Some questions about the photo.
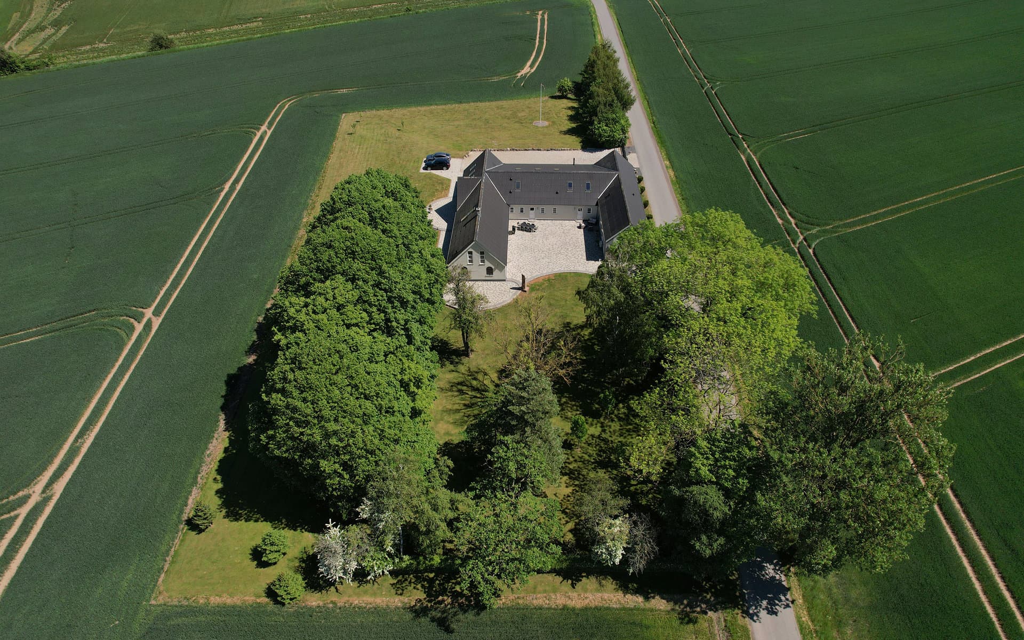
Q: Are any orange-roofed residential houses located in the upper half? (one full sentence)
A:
No, looking in the upper half, there is no orange-roofed residential house.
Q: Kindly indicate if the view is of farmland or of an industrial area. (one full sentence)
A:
The area seen from above is farmland.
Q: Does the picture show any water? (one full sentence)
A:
No, water can't be seen anywhere here.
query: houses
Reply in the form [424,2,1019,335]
[447,149,647,280]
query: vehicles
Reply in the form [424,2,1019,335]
[424,151,452,161]
[426,157,451,169]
